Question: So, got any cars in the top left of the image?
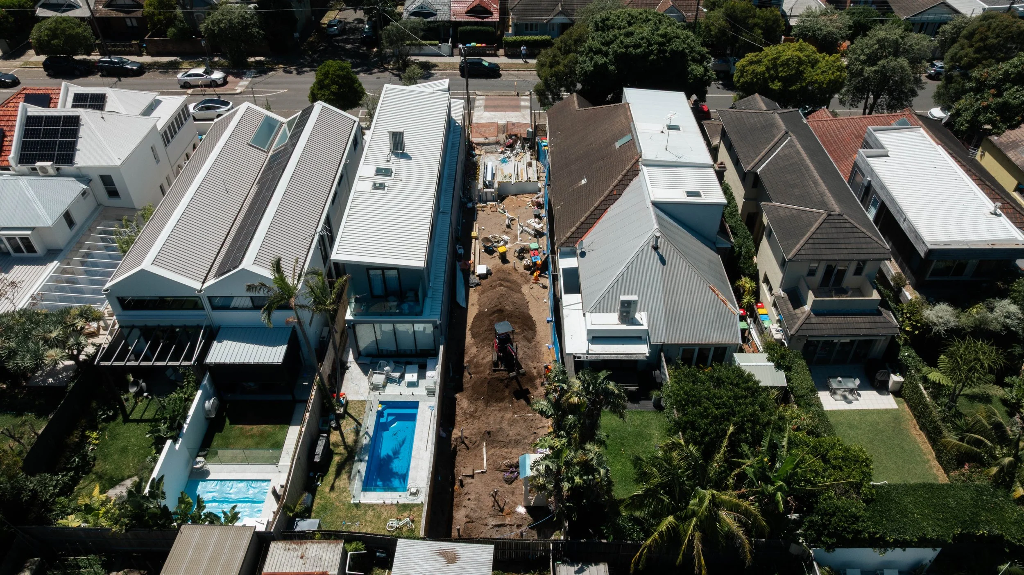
Yes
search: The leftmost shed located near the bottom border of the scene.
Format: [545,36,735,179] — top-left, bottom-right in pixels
[162,525,262,575]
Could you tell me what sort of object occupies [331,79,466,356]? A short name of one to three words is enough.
house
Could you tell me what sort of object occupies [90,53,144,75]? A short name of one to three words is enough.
car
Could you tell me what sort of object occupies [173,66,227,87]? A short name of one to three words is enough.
car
